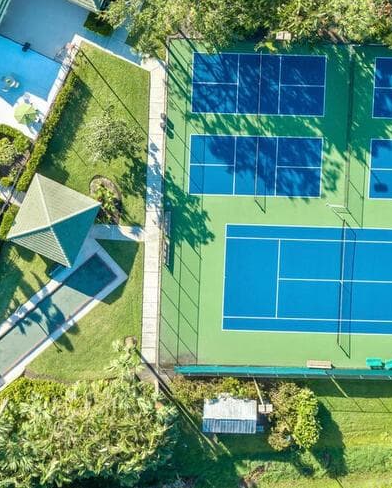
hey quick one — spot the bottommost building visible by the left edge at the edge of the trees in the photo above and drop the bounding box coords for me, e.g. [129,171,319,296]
[7,172,101,268]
